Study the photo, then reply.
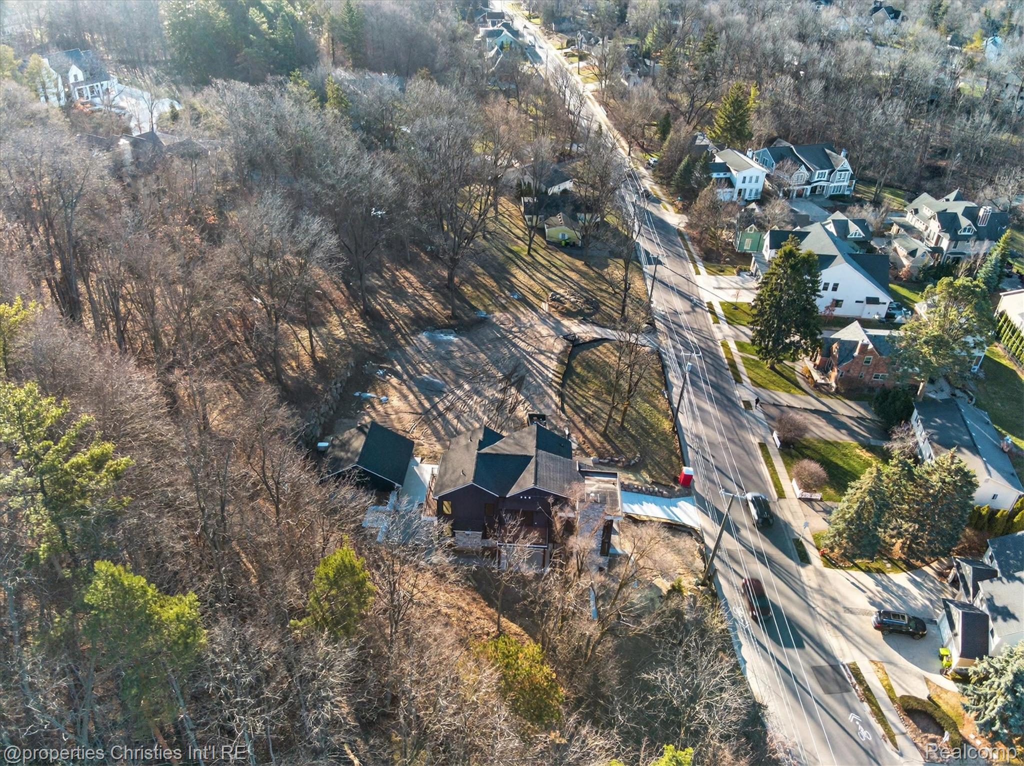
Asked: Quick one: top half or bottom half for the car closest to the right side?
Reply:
bottom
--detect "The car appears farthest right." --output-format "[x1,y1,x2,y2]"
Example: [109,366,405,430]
[871,604,933,645]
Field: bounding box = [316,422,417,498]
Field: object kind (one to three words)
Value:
building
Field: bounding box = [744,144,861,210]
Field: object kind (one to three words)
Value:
house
